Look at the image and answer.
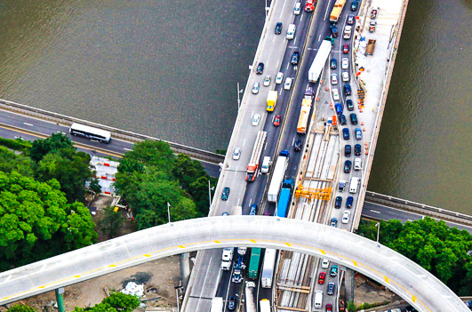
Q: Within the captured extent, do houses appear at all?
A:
No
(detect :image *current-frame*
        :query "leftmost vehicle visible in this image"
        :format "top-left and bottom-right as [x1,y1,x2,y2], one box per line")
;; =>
[70,125,111,145]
